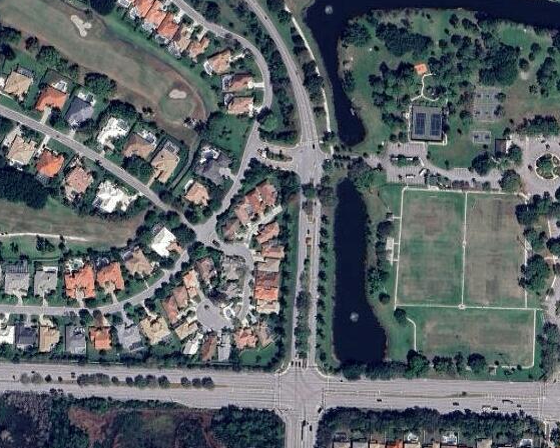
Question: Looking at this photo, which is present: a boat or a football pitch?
football pitch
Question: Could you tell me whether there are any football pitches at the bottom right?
Yes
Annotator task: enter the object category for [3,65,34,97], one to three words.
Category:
house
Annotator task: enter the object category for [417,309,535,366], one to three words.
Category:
soccer field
